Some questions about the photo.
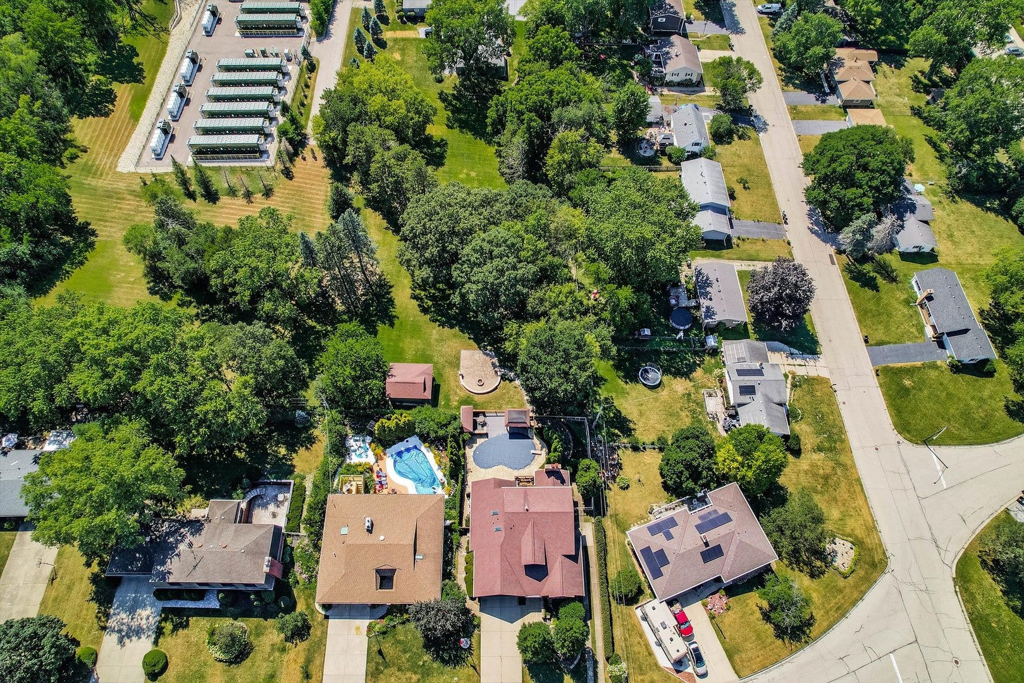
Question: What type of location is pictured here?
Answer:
residential area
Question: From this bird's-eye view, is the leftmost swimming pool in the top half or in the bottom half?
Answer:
bottom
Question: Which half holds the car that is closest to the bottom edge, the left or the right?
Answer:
right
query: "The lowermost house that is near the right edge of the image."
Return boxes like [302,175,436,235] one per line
[909,269,994,363]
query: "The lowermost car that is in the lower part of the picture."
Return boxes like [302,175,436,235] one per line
[686,641,706,676]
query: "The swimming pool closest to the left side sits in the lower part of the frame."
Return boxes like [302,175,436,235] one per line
[385,436,447,494]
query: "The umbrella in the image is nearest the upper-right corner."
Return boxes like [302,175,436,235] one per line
[912,182,927,194]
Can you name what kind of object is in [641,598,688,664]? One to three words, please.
vehicle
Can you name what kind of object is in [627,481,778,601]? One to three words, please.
house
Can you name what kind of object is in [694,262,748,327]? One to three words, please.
house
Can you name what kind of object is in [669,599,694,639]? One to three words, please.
truck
